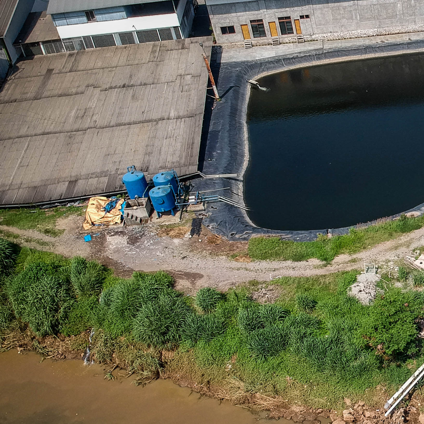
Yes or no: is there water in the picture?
Yes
